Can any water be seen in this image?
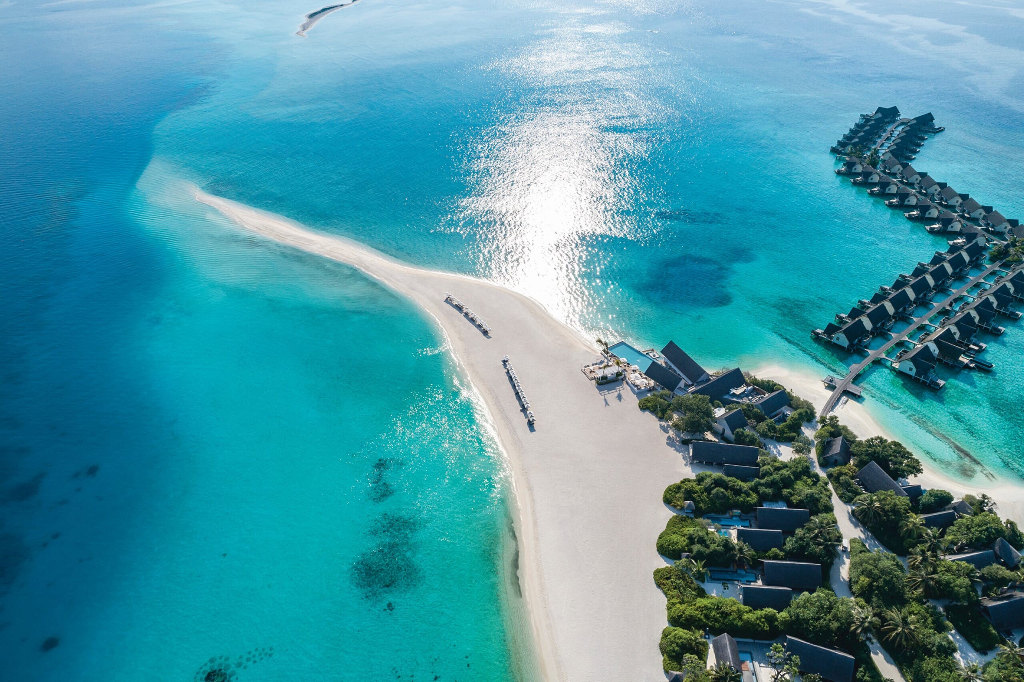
Yes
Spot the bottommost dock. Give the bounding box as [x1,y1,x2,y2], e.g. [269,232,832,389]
[814,249,1023,429]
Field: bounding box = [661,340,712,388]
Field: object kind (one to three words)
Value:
building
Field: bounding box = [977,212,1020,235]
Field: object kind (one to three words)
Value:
house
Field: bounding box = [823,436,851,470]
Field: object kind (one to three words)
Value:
shed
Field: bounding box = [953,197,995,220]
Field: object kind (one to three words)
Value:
house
